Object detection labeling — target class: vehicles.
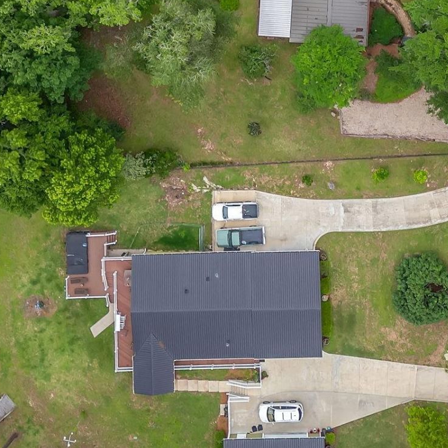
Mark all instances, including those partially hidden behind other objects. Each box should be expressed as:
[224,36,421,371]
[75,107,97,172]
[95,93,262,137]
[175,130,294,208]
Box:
[211,201,258,222]
[259,400,301,423]
[217,227,266,248]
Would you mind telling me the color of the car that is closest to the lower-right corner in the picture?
white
